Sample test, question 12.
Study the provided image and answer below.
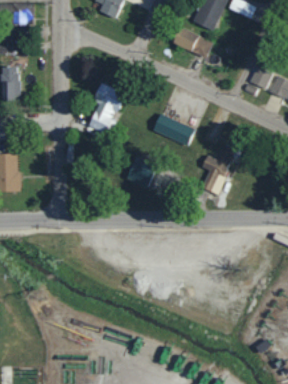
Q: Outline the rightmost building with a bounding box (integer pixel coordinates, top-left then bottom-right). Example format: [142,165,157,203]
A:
[268,76,288,102]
